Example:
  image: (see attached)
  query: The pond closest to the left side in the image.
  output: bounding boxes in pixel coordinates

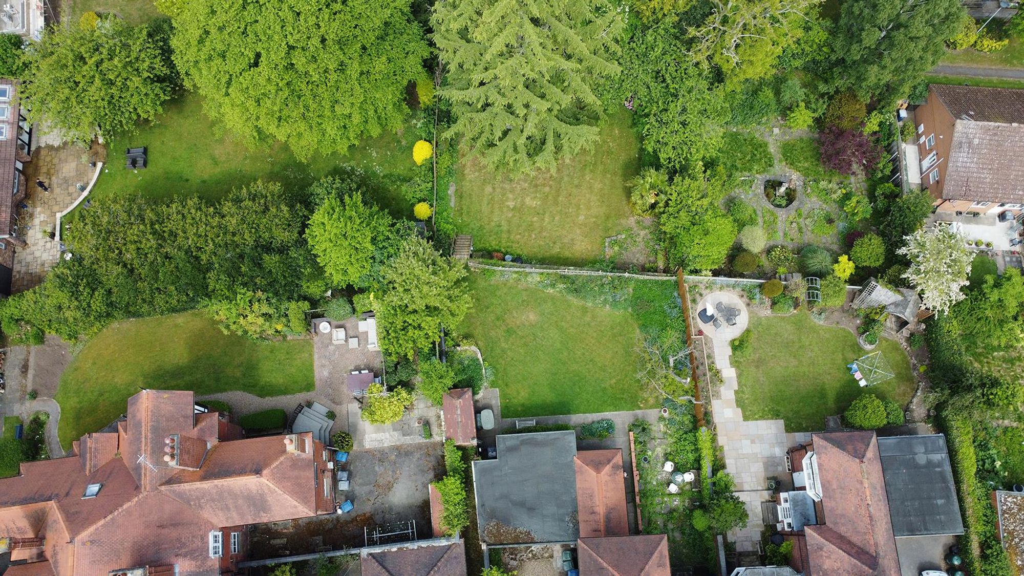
[755,170,806,217]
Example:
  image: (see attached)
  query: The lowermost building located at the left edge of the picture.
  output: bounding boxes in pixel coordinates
[0,390,333,576]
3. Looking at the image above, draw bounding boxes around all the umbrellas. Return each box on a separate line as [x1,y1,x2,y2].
[699,304,723,324]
